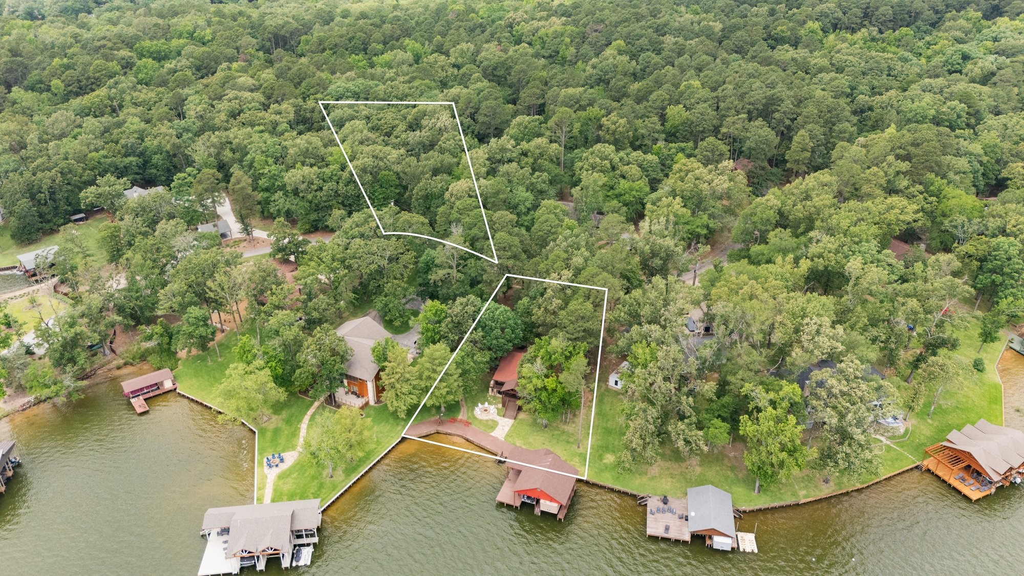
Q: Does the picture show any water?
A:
Yes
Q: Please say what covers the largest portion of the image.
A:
trees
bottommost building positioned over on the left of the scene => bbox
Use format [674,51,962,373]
[197,499,327,576]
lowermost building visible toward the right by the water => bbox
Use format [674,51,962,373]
[636,485,742,554]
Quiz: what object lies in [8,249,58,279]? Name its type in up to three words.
building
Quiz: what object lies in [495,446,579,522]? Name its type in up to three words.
building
